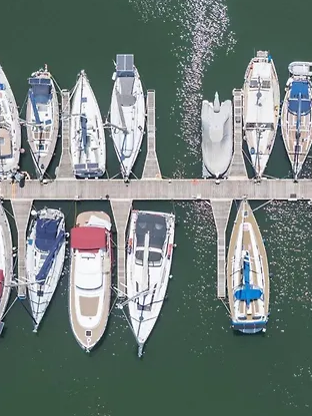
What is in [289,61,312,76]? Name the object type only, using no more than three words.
boat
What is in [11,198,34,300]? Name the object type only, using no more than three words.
pier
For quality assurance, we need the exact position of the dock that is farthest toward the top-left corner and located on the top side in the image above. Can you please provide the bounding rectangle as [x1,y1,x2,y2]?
[55,89,75,178]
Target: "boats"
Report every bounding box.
[222,196,273,334]
[0,66,23,178]
[235,48,285,182]
[0,198,20,331]
[100,54,148,184]
[69,199,120,355]
[289,61,312,76]
[5,64,62,182]
[278,73,312,184]
[55,66,109,180]
[2,198,70,334]
[114,198,177,357]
